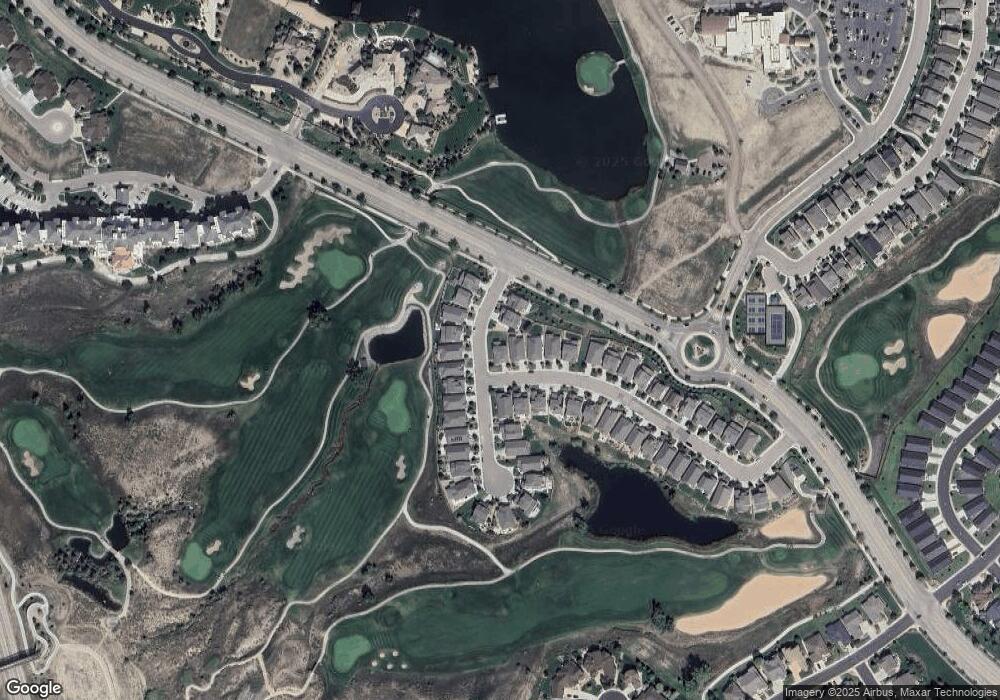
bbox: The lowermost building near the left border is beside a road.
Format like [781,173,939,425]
[0,185,256,260]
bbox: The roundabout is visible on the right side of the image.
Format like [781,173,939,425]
[657,309,743,381]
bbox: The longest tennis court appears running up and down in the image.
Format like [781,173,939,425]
[767,306,785,345]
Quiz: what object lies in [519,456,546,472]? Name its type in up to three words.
house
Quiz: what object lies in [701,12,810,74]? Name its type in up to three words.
building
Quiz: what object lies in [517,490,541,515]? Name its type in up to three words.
house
